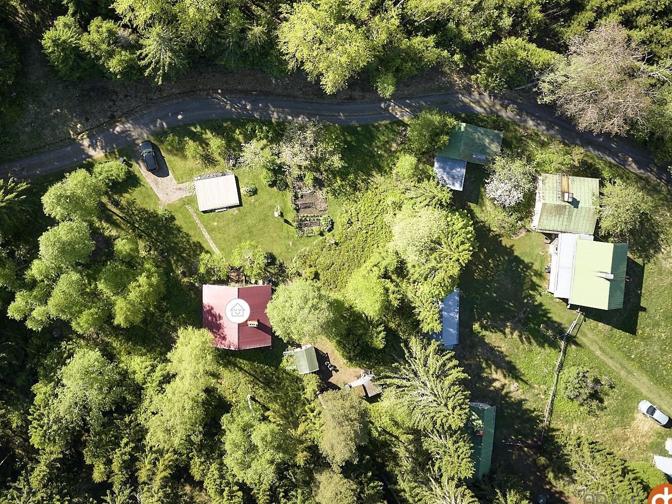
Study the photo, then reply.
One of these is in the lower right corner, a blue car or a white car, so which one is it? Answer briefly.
white car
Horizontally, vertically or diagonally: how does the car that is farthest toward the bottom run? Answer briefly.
diagonally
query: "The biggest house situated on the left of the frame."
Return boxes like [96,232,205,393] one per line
[203,284,271,350]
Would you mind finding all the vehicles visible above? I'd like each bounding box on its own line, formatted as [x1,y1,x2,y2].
[139,140,157,173]
[640,401,671,427]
